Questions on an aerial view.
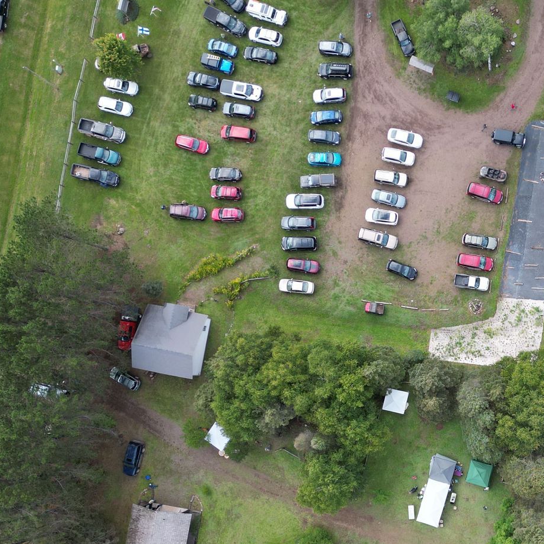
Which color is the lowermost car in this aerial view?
black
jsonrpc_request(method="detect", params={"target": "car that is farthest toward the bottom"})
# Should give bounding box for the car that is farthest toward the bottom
[123,440,146,477]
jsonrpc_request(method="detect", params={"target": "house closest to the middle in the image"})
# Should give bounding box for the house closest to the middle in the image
[132,303,210,379]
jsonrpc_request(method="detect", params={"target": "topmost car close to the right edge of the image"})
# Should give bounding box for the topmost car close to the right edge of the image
[492,129,524,147]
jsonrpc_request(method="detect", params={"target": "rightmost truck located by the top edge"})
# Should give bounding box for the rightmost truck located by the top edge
[388,16,417,60]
